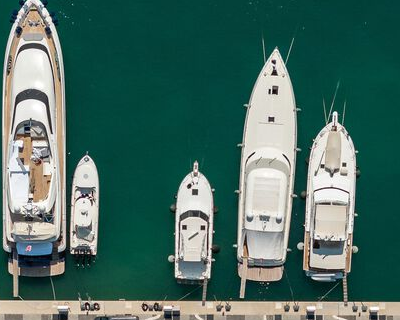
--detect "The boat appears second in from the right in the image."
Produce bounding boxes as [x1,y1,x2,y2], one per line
[233,39,300,300]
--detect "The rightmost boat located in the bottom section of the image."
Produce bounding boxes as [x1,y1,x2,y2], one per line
[297,84,362,301]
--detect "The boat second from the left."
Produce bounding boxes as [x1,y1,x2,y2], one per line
[71,151,100,266]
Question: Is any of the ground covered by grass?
No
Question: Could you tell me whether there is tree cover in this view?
No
